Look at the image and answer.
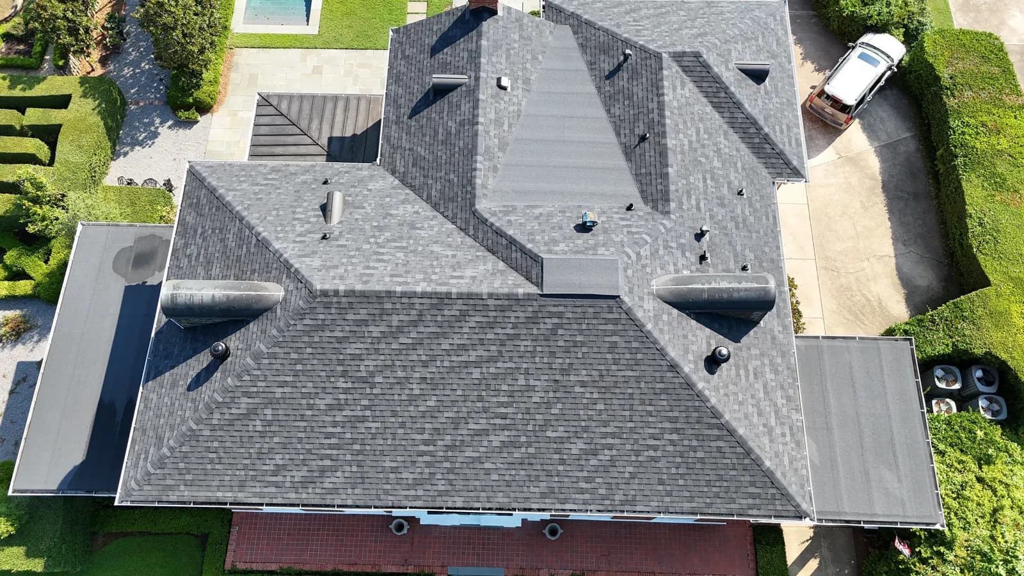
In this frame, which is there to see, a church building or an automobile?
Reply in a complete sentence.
The one in the frame is an automobile.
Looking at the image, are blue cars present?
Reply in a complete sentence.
No, there appears to be no blue car in this shot.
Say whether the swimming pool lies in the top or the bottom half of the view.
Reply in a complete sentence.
The swimming pool is in the top half of the image.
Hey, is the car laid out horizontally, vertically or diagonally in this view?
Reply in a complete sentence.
What the image shows is the car lying diagonally.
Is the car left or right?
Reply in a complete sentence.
The car is on the right side of the image.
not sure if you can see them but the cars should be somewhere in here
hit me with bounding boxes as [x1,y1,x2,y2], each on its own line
[802,36,911,140]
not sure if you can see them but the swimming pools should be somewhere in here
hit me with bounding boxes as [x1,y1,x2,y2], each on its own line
[235,0,327,36]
